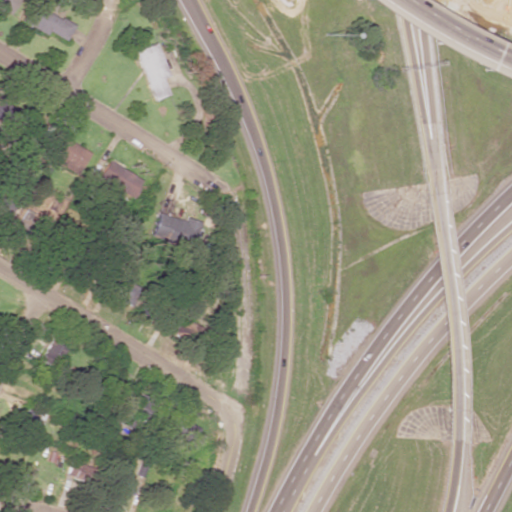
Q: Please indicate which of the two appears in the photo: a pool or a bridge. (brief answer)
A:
bridge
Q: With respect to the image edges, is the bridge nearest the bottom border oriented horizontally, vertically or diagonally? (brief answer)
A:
vertically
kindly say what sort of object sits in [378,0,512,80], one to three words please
overpass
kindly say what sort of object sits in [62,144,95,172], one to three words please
house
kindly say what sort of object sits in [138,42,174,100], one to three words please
house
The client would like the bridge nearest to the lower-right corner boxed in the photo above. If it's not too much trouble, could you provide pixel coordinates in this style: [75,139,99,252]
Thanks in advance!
[426,183,474,440]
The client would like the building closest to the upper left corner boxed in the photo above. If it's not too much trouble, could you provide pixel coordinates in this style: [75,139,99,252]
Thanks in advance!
[36,12,78,42]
